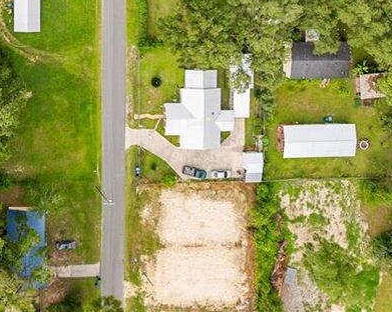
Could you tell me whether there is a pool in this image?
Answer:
No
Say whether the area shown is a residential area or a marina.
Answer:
residential area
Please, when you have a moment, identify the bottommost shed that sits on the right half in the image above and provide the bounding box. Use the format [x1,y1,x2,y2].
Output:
[239,148,263,181]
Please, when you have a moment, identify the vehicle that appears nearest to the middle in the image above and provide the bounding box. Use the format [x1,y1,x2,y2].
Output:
[181,165,207,178]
